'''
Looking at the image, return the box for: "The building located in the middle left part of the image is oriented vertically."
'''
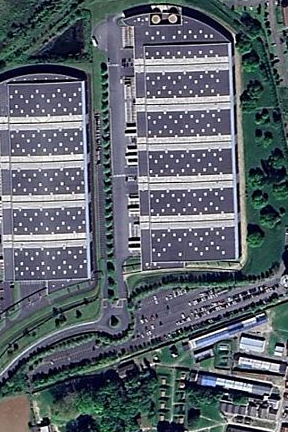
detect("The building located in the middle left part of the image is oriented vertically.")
[0,71,97,295]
